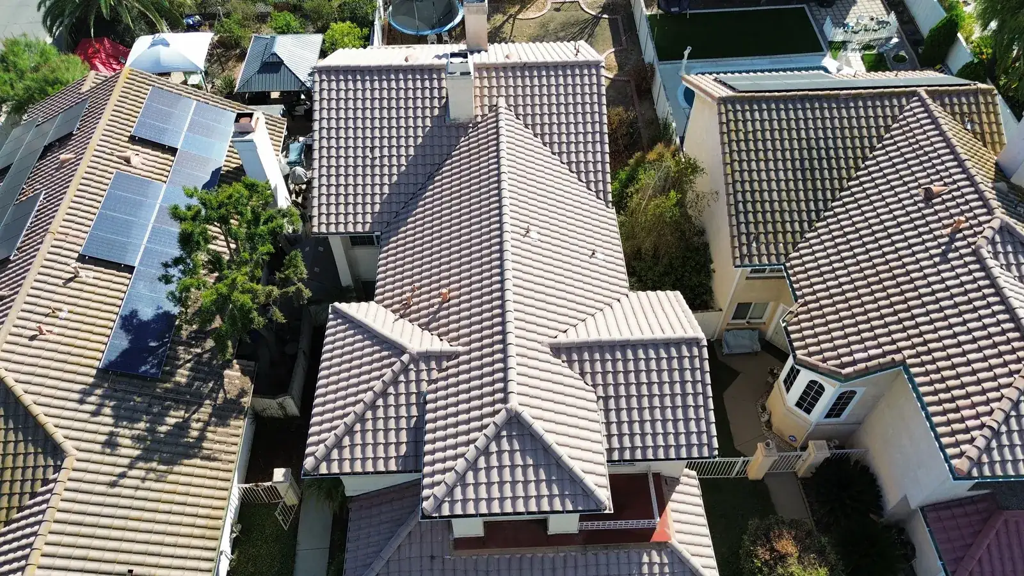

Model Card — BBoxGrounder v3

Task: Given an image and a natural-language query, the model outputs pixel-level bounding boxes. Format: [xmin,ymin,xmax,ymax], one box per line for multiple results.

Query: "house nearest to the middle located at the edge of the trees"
[301,0,719,576]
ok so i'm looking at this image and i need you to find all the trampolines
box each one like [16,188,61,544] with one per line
[389,0,465,43]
